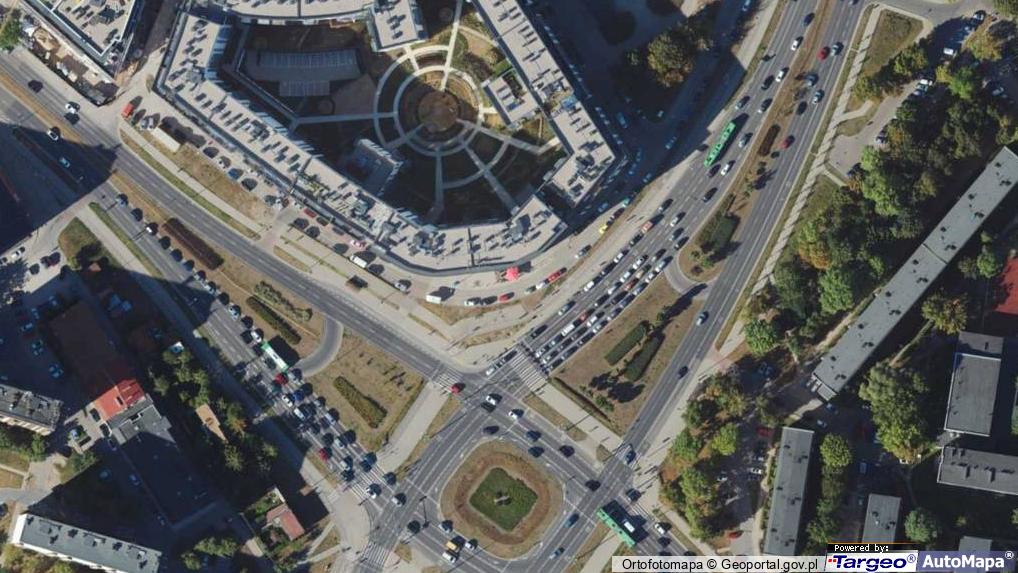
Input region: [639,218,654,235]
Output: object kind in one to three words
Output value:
vehicle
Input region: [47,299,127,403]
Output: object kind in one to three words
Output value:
building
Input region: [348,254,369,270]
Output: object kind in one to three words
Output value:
vehicle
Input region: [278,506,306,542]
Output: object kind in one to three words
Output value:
house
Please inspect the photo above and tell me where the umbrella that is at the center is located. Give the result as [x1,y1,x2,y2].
[505,266,520,281]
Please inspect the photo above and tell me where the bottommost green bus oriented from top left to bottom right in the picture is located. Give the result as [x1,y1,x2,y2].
[597,506,636,545]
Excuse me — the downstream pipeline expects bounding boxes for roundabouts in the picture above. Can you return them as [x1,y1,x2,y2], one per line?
[440,438,565,558]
